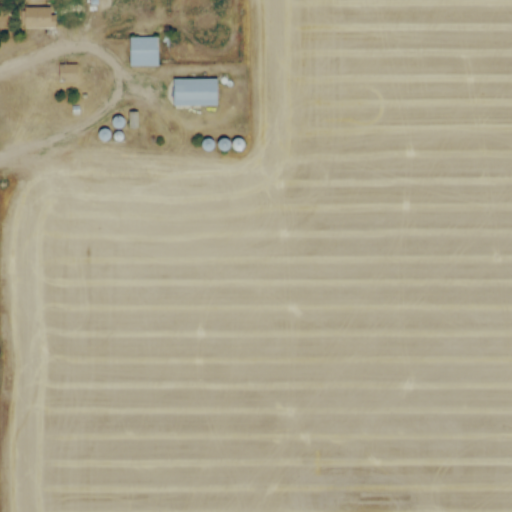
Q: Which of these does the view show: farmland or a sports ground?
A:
farmland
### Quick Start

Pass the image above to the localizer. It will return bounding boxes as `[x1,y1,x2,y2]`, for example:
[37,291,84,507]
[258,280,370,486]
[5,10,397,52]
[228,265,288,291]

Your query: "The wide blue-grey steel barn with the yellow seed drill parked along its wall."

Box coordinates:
[174,78,218,106]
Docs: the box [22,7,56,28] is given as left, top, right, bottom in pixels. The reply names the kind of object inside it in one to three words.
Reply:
house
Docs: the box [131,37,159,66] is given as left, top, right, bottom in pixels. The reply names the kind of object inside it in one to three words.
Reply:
barn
